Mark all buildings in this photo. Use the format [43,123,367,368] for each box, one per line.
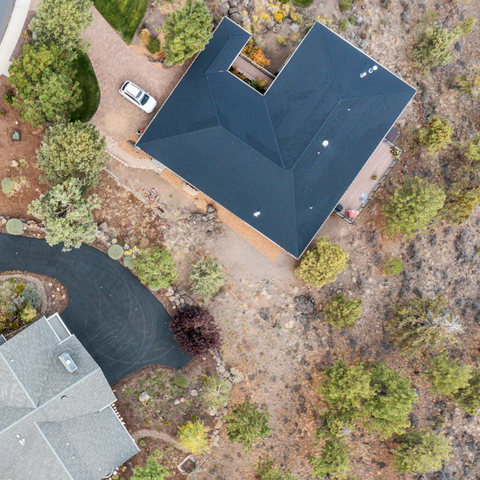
[0,313,141,480]
[135,16,418,260]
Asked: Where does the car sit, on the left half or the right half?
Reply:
left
